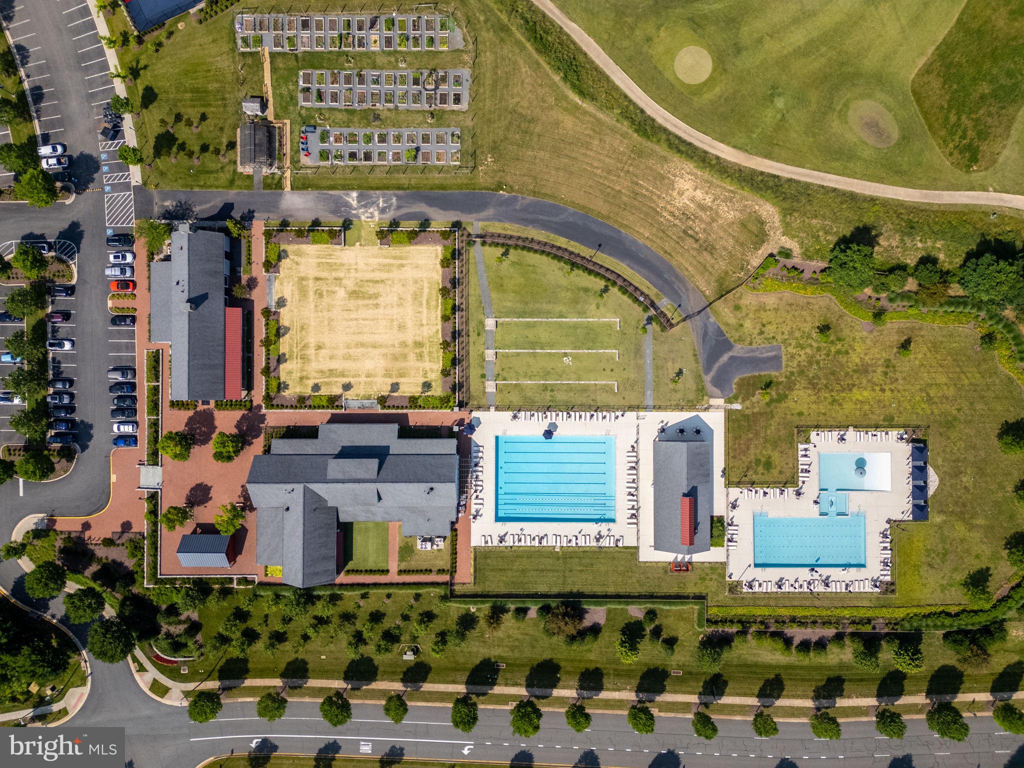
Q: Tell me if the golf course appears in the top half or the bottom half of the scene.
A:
top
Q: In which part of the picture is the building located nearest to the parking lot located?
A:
left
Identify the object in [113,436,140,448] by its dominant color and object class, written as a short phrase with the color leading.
blue vehicle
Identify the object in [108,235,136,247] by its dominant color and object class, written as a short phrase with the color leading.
black vehicle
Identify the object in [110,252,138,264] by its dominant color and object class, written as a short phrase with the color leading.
white vehicle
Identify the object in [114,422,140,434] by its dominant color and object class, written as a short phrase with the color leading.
white vehicle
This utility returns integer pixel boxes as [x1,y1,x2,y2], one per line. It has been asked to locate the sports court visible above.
[125,0,204,32]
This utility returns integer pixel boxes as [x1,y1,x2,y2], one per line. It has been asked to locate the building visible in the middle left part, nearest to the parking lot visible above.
[150,224,247,400]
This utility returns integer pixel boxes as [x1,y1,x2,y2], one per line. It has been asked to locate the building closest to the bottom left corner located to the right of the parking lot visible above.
[177,533,237,567]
